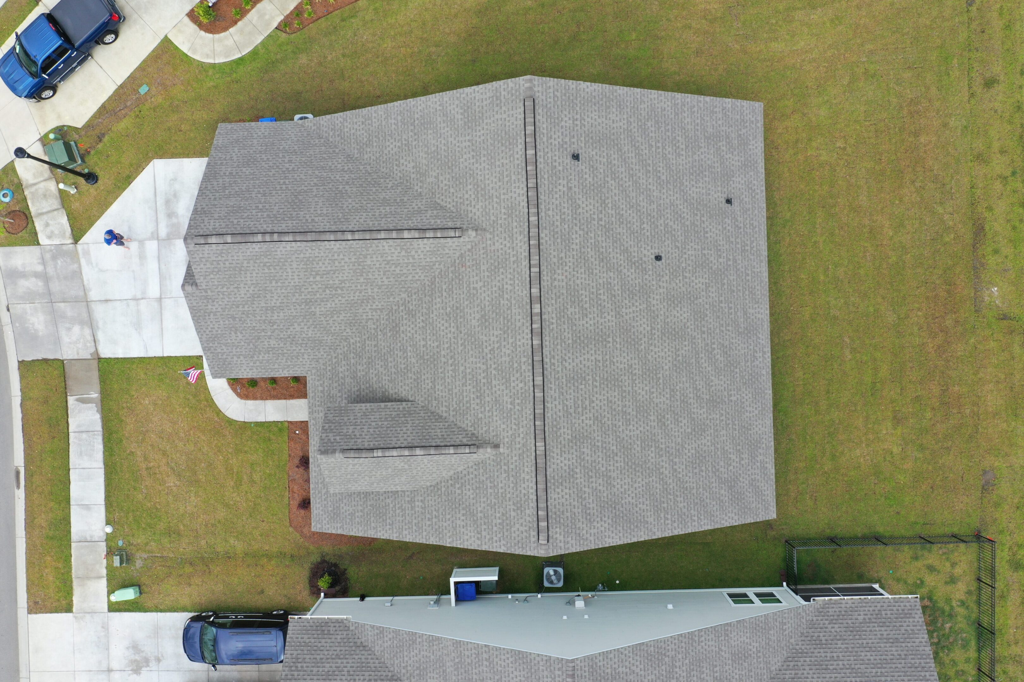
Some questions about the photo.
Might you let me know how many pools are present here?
none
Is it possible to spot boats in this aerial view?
No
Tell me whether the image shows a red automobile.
No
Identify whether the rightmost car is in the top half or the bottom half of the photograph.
bottom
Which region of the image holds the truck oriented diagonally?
top left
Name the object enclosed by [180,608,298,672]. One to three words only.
car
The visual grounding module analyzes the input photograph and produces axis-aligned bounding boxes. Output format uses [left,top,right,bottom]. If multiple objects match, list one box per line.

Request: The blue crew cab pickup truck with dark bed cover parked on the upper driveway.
[0,0,130,110]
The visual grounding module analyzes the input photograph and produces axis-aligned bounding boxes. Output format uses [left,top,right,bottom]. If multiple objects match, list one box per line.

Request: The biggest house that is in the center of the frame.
[182,74,776,556]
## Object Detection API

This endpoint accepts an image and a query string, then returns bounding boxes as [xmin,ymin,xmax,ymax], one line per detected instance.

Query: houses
[182,74,776,556]
[284,577,934,682]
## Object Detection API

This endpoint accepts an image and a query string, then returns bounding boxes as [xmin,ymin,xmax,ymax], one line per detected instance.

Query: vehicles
[0,0,130,110]
[180,608,298,672]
